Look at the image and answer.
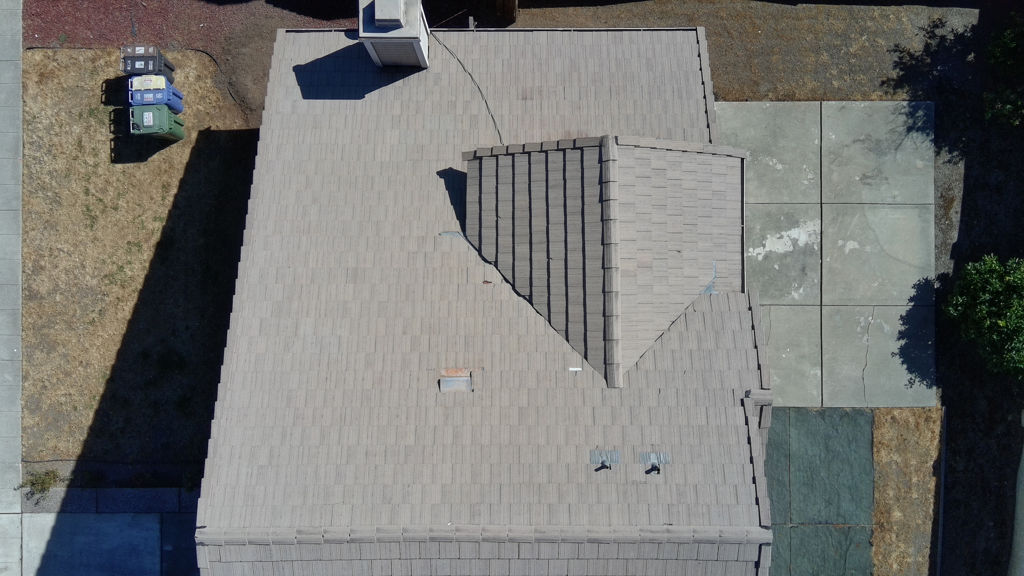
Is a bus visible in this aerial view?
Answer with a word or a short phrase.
No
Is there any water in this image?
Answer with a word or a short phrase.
No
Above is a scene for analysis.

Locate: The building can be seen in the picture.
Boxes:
[193,0,775,576]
